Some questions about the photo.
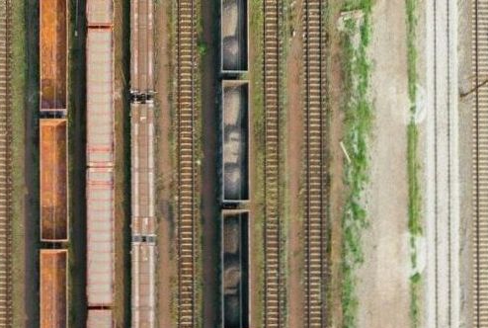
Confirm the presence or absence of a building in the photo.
No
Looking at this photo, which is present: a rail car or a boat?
rail car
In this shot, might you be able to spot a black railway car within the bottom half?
Yes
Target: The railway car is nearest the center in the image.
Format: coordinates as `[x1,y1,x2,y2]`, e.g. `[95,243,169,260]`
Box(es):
[218,81,249,209]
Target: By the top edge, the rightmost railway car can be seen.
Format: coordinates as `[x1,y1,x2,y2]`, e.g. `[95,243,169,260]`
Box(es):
[217,0,248,83]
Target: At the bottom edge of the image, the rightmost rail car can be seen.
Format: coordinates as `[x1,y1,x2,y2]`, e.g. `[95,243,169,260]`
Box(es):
[218,209,249,328]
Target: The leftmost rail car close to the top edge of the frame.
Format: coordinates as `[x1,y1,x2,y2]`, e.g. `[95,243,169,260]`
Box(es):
[40,0,67,120]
